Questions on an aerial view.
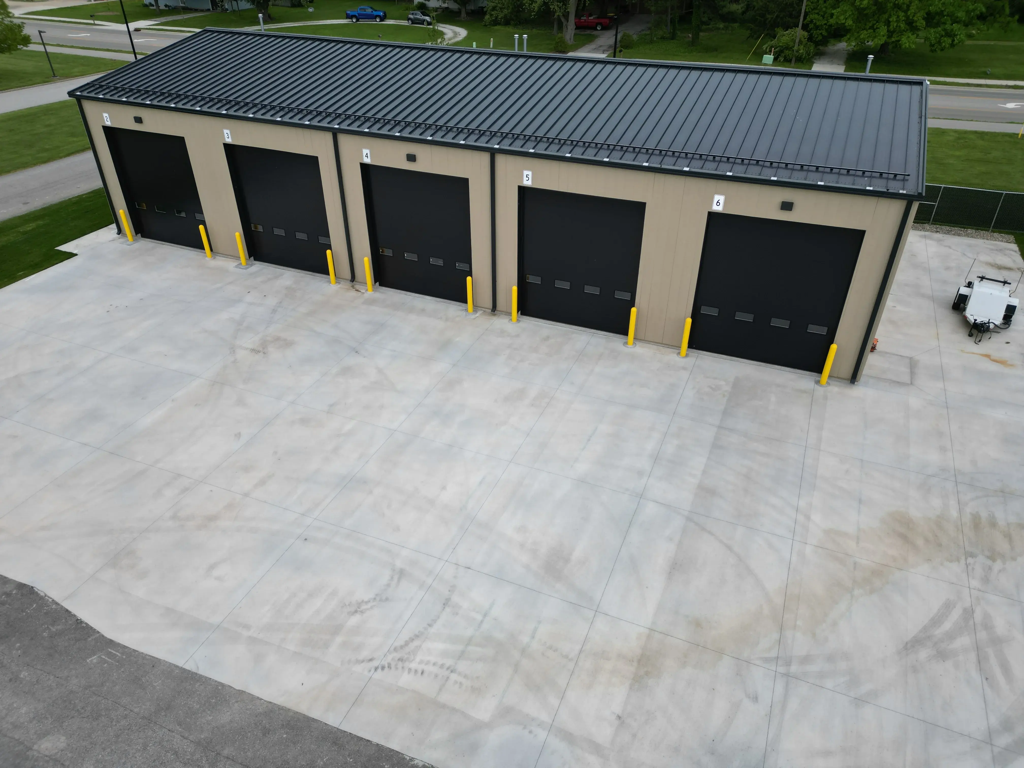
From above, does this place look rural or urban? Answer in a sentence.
From above, the setting appears urban.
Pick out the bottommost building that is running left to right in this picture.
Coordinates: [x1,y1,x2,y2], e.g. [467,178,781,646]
[66,14,931,386]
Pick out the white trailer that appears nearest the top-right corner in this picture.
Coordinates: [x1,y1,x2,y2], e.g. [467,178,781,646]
[953,254,1024,347]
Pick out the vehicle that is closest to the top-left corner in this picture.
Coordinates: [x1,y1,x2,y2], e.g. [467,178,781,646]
[344,4,390,22]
